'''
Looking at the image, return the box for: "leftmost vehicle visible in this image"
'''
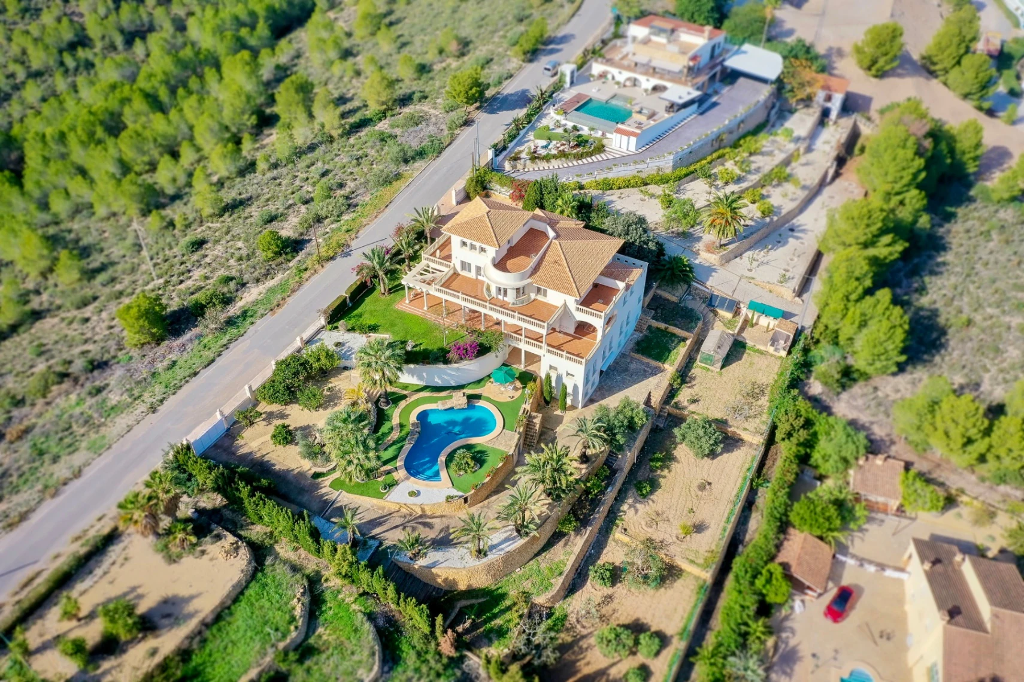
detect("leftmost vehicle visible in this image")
[539,61,563,76]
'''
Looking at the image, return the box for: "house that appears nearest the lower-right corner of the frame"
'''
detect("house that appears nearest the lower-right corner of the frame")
[895,538,1024,682]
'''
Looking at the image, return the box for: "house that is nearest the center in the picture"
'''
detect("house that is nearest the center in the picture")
[396,195,649,409]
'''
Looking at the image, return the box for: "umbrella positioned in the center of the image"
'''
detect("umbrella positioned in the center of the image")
[490,365,518,392]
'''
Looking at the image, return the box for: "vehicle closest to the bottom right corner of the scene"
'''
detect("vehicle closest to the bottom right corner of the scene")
[825,578,858,628]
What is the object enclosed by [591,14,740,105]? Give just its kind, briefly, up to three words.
house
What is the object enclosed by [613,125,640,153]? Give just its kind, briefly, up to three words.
shed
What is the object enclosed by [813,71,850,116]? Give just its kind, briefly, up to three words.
shed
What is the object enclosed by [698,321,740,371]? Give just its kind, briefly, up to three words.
greenhouse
